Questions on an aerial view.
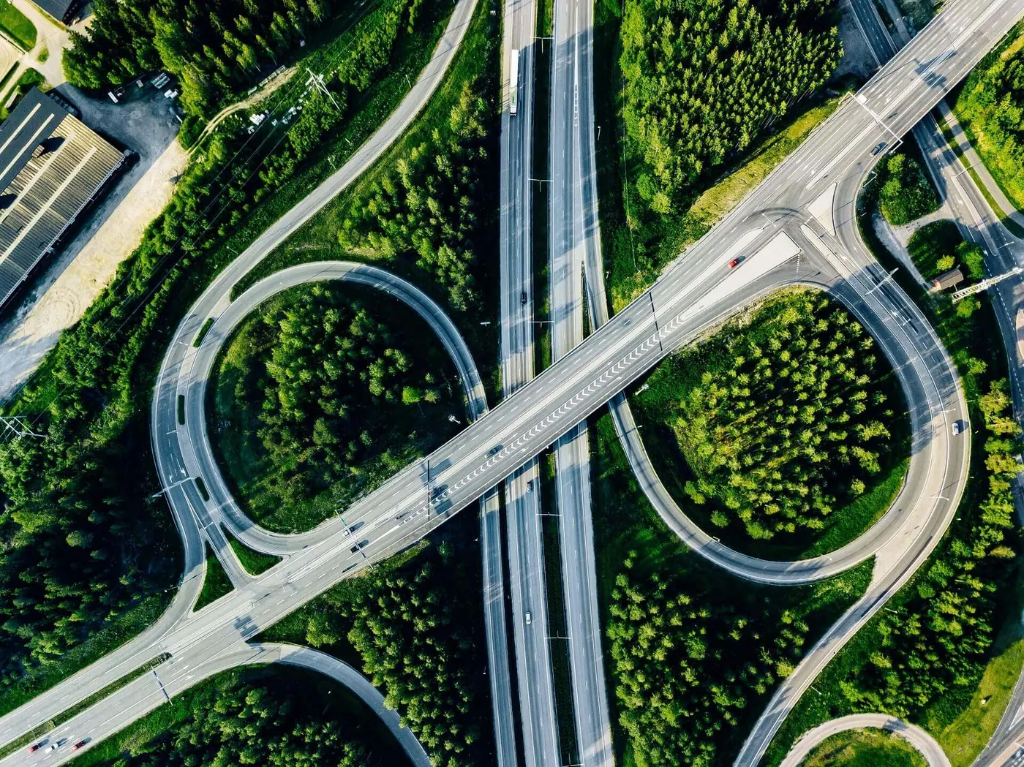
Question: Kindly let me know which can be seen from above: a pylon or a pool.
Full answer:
Of the two, only a pylon appears.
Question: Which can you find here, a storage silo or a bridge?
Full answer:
It is a bridge that can be seen here.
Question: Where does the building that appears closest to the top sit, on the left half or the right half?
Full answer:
It is on the left.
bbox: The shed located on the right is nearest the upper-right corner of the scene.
[923,265,960,294]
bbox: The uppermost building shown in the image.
[33,0,85,29]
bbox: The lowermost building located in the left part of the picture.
[0,87,132,321]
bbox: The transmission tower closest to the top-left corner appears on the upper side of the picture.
[303,68,341,115]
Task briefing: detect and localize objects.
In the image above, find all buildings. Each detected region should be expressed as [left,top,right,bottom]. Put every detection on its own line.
[0,87,132,321]
[923,265,960,294]
[33,0,85,29]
